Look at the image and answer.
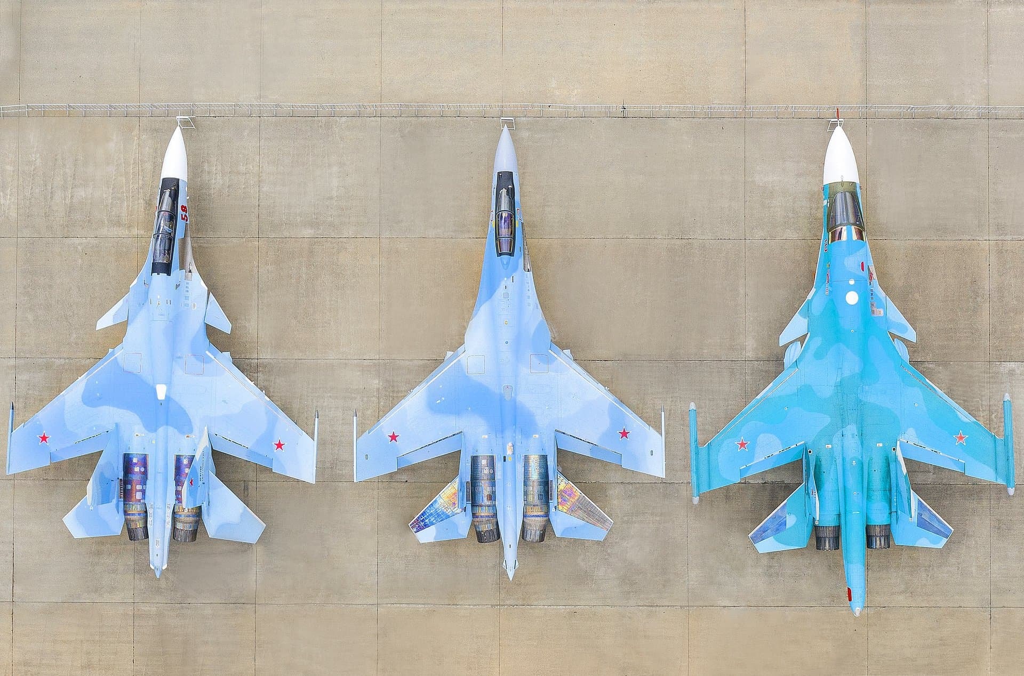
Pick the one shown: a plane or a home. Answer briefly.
plane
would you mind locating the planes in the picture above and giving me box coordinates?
[6,111,319,578]
[689,108,1015,617]
[353,125,665,580]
